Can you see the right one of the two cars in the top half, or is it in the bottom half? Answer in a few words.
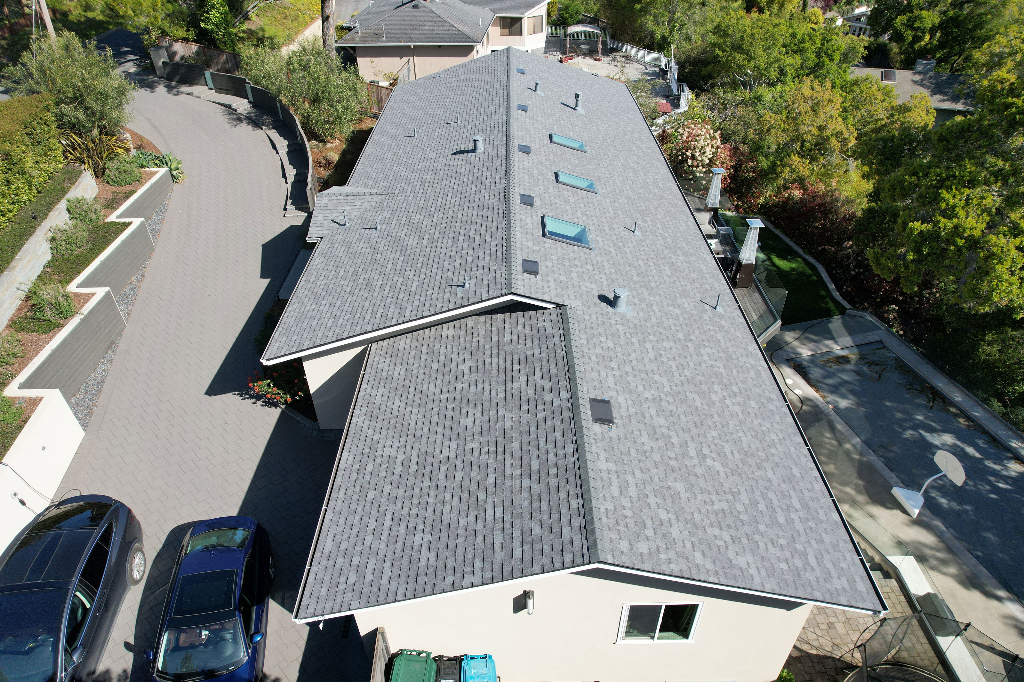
bottom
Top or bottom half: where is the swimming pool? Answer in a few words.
bottom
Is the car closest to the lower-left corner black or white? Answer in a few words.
black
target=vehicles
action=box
[131,519,281,682]
[0,497,143,682]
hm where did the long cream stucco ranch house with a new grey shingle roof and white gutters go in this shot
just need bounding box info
[259,46,890,682]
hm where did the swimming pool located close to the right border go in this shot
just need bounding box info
[764,330,1024,629]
